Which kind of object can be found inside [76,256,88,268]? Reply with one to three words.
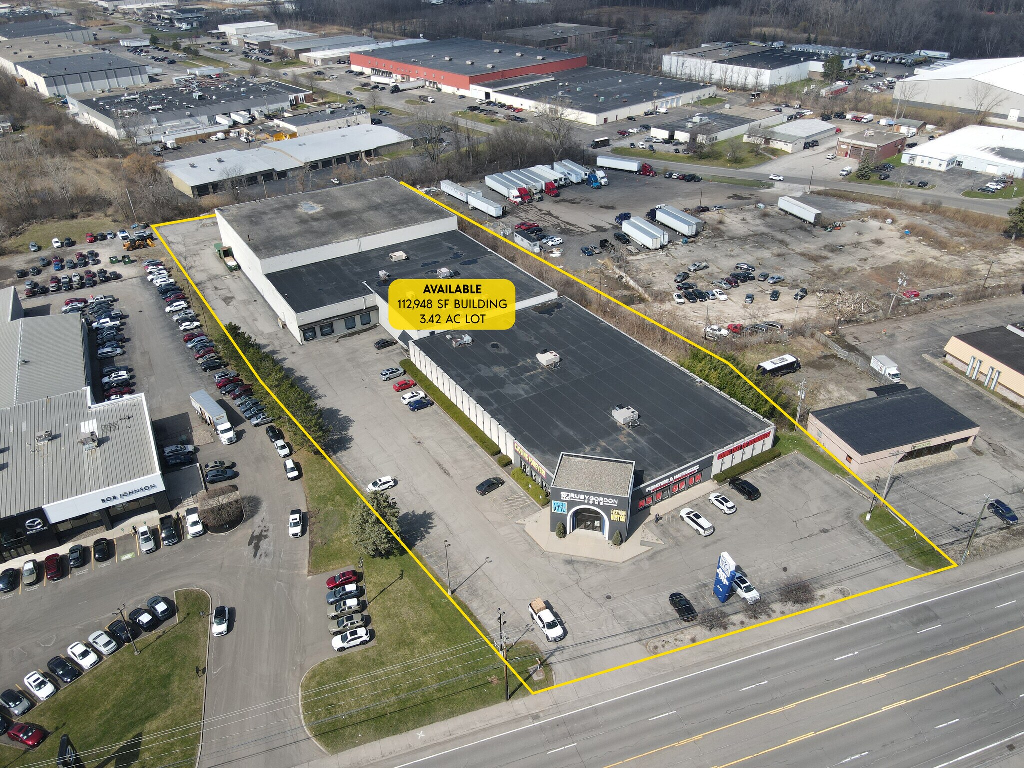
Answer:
vehicle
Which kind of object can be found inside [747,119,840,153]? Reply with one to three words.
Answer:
shed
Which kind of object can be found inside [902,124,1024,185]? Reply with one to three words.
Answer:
building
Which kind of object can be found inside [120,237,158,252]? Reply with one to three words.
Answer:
work vehicle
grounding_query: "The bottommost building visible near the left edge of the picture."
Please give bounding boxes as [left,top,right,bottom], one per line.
[0,286,206,566]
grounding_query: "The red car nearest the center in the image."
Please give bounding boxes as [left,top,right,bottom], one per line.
[391,381,419,394]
